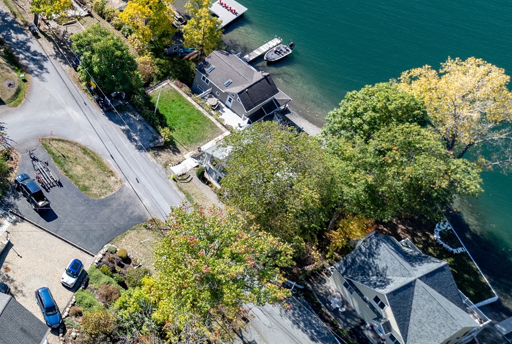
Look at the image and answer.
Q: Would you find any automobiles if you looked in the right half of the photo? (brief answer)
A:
No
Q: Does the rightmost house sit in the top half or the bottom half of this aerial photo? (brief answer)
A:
bottom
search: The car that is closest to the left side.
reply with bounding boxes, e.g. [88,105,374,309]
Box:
[0,272,14,294]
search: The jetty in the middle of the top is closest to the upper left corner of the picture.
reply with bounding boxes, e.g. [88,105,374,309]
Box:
[208,0,248,34]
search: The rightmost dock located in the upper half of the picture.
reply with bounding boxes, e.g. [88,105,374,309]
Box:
[242,34,283,63]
